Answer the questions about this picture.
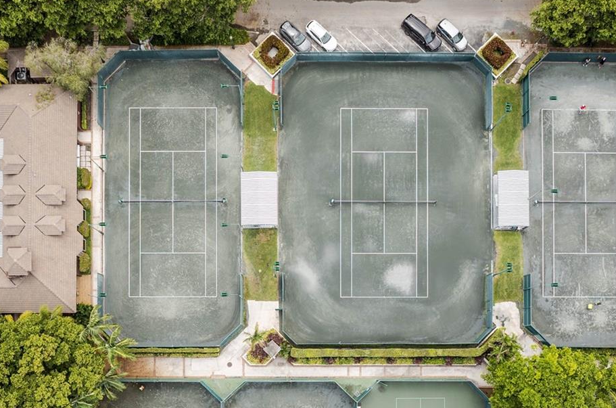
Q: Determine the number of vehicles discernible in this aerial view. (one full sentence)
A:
The photo contains 4 vehicles.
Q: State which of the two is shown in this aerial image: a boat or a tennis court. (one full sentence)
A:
The one in the frame is a tennis court.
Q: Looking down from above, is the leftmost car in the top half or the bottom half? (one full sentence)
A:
It is in the top half that the leftmost car appears.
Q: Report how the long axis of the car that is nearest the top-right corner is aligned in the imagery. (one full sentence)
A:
The car that is nearest the top-right corner is oriented at an angle.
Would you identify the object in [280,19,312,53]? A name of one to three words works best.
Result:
car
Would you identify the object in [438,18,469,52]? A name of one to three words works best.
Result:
car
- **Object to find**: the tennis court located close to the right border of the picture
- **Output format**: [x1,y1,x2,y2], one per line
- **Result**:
[521,62,616,347]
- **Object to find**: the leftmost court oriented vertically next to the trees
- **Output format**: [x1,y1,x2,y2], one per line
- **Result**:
[102,59,242,347]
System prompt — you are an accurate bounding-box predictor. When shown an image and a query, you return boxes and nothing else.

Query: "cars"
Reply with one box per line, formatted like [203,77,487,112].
[438,18,469,52]
[280,19,312,53]
[406,15,443,52]
[306,18,337,52]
